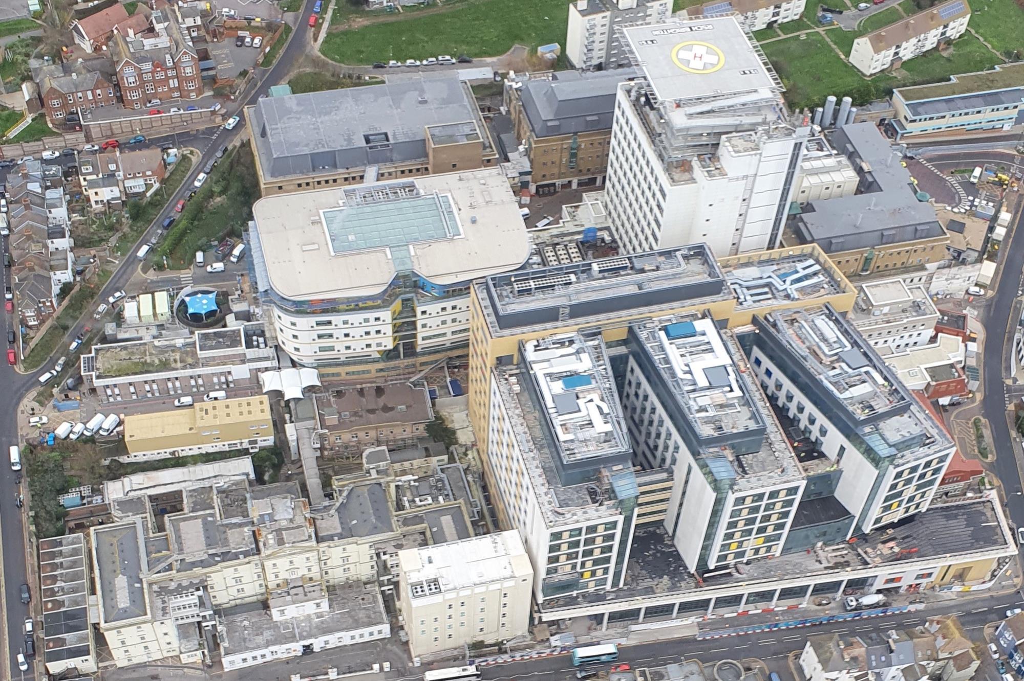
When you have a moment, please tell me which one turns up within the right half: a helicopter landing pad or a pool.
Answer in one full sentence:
There is a helicopter landing pad within the right half.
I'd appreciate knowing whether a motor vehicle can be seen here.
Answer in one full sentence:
Yes, the image includes a motor vehicle.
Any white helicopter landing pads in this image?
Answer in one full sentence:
Yes, the photo shows a white helicopter landing pad.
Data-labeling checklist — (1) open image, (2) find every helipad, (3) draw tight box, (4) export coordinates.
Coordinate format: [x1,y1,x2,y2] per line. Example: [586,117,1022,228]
[614,12,786,132]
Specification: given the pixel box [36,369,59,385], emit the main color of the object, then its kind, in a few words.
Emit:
white vehicle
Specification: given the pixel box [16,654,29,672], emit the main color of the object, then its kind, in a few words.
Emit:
white vehicle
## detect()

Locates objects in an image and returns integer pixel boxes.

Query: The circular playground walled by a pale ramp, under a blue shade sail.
[169,282,228,330]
